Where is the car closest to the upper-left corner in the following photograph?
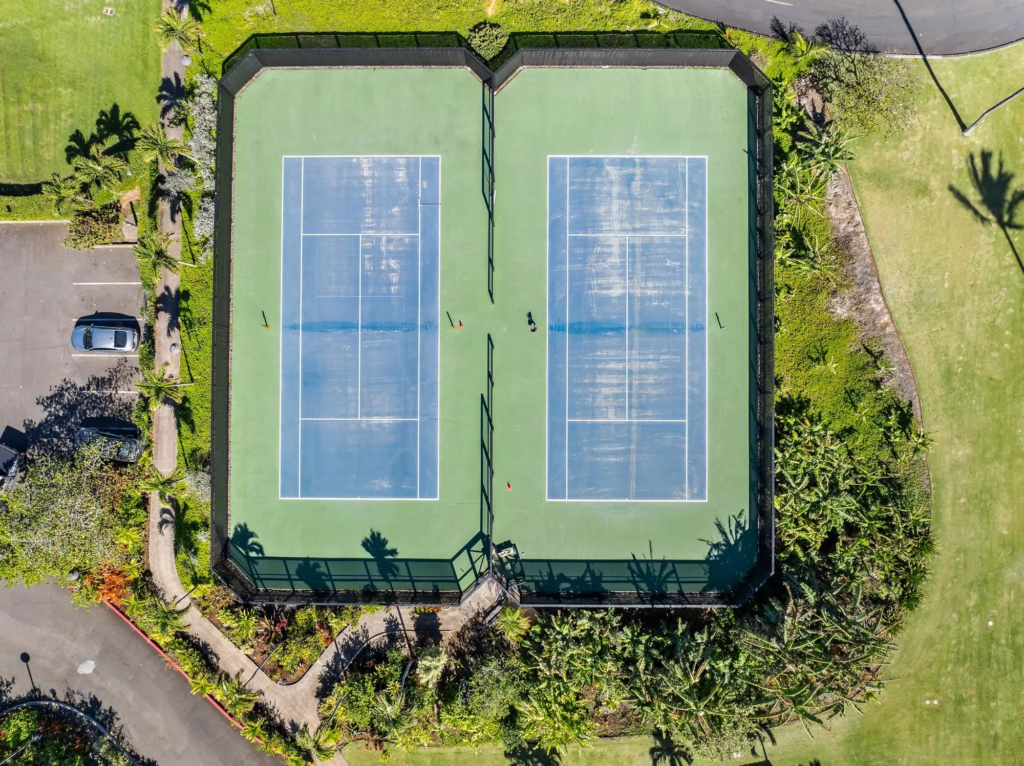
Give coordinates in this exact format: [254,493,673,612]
[67,317,138,349]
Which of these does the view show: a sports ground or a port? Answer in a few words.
sports ground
